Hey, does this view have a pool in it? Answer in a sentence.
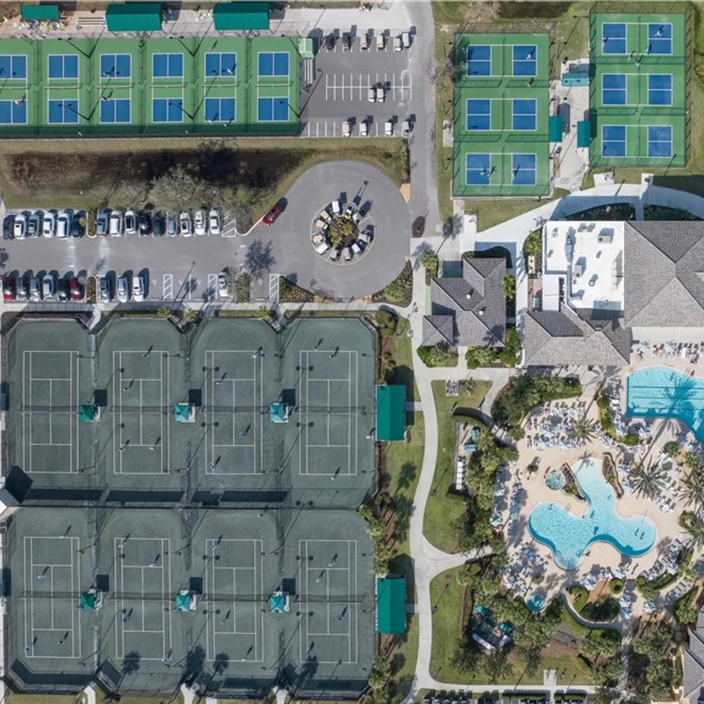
Yes, the photo shows a pool.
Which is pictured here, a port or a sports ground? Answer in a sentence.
What you see here is a sports ground.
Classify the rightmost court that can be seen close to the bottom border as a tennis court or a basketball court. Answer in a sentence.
The rightmost court that can be seen close to the bottom border in the image is a tennis court.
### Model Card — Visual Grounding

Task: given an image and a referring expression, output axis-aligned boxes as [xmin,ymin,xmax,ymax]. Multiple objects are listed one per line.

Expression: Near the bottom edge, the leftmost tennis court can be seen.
[6,507,95,692]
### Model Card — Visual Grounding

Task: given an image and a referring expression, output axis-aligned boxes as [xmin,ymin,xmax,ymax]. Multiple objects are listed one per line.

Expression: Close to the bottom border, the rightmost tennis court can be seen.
[279,507,375,697]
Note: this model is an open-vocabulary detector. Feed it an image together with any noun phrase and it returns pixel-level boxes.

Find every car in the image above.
[25,210,41,240]
[16,276,30,301]
[180,211,191,236]
[1,276,15,301]
[131,276,145,301]
[110,208,124,238]
[43,212,56,237]
[196,210,206,235]
[56,277,70,302]
[209,209,221,234]
[124,209,137,235]
[152,211,166,237]
[13,214,27,239]
[40,274,55,298]
[70,276,84,301]
[96,211,111,237]
[56,212,71,237]
[29,276,42,301]
[97,277,111,301]
[117,276,130,301]
[262,203,285,225]
[138,211,152,237]
[165,214,178,238]
[1,215,15,240]
[72,212,86,238]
